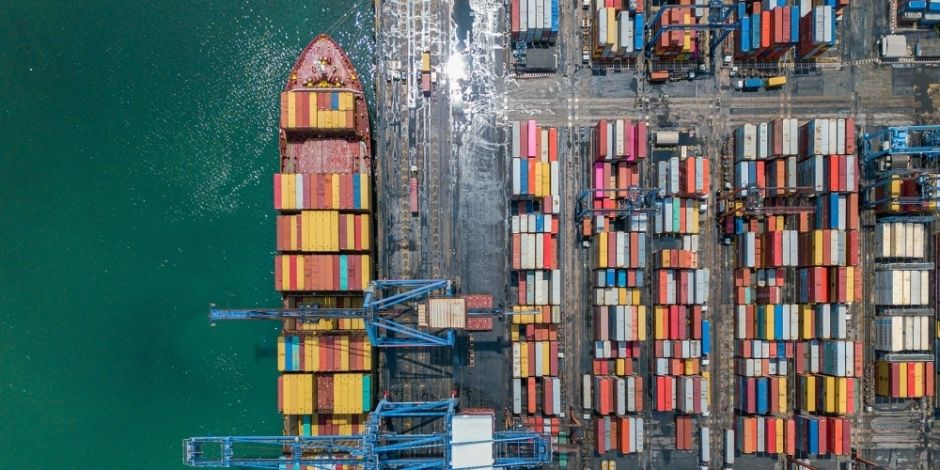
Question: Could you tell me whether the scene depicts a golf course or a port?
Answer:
port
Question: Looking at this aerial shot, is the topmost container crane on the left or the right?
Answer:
right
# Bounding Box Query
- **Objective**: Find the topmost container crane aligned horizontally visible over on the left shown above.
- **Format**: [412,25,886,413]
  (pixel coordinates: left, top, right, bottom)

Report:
[205,274,546,352]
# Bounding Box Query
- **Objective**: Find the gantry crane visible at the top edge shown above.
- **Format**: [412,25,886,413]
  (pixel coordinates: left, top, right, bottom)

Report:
[645,2,738,54]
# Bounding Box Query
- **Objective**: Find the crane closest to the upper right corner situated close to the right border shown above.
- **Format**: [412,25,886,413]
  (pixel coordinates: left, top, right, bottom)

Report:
[862,125,940,167]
